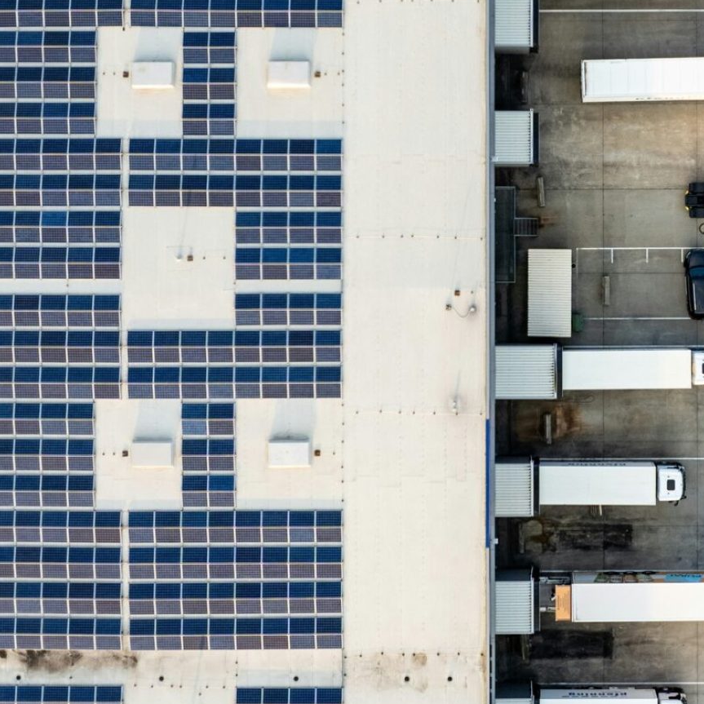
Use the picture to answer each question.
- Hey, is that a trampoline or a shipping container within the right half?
shipping container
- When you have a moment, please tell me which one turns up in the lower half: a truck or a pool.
truck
